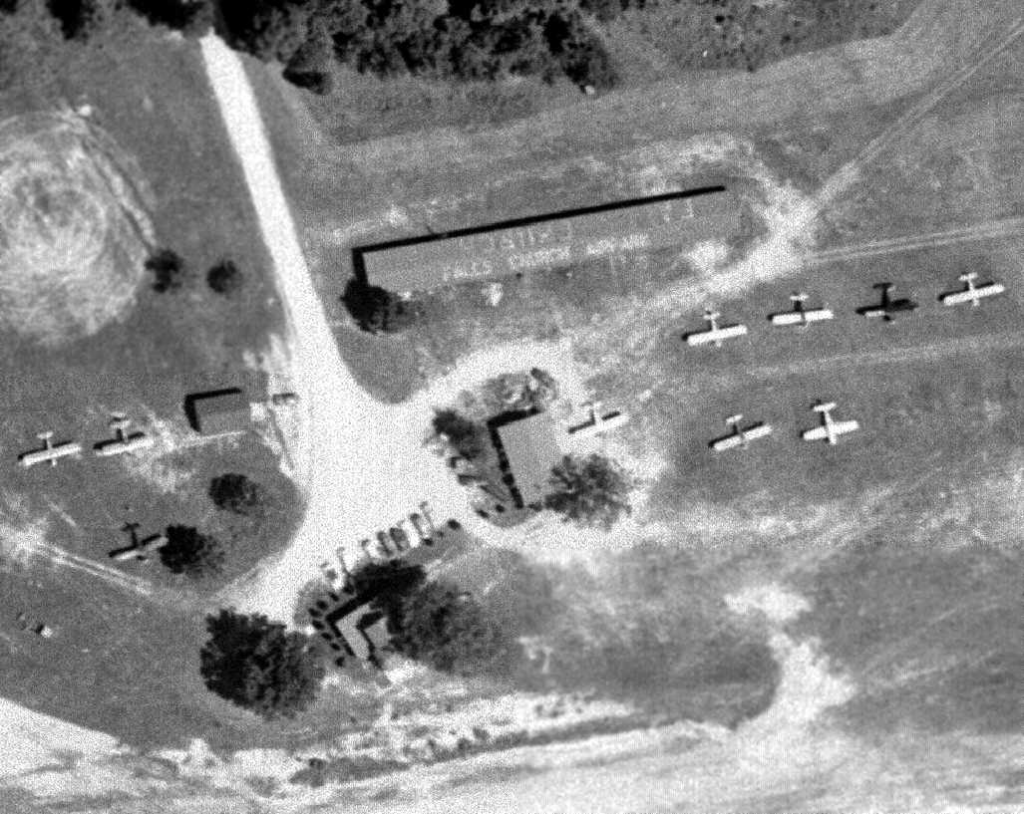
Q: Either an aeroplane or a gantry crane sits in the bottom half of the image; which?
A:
aeroplane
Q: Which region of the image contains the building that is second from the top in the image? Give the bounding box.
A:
[192,389,255,438]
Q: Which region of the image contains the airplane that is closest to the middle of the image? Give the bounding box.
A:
[569,403,630,441]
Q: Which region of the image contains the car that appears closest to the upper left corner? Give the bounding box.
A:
[274,395,299,408]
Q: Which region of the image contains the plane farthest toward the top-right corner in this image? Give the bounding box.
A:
[945,272,1006,308]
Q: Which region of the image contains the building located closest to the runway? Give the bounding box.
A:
[334,599,408,662]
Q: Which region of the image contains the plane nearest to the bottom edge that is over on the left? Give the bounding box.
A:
[110,526,170,563]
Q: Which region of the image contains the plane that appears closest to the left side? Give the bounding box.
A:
[20,431,82,468]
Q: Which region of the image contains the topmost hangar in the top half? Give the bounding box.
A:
[363,190,737,297]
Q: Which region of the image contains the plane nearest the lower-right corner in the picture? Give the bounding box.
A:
[803,402,860,446]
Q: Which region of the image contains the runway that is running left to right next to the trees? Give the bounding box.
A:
[0,635,1024,814]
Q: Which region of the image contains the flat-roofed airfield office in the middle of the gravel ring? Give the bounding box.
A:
[499,415,571,509]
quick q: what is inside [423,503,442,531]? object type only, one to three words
car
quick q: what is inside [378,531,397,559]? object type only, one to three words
car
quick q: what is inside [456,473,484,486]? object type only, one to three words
vehicle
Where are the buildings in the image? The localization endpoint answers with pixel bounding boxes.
[192,389,255,438]
[363,190,737,297]
[499,415,571,509]
[334,599,408,662]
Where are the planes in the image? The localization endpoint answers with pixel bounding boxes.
[569,403,630,441]
[713,415,774,452]
[93,424,155,461]
[772,293,834,330]
[803,402,860,446]
[20,431,82,468]
[110,526,170,563]
[945,272,1006,308]
[687,312,749,349]
[862,287,923,324]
